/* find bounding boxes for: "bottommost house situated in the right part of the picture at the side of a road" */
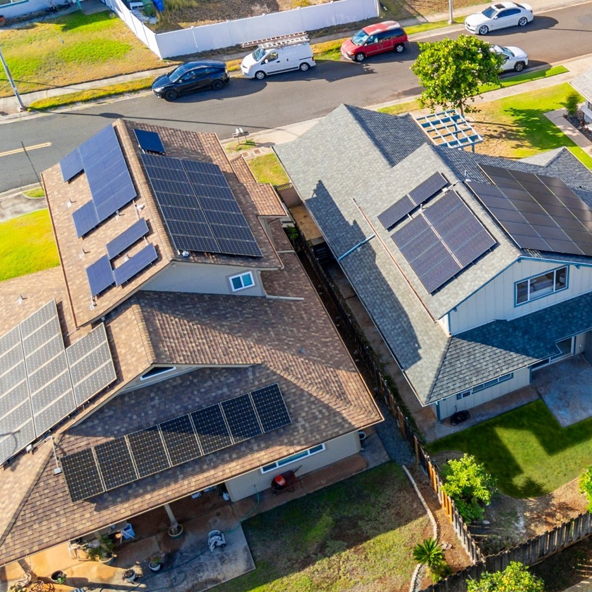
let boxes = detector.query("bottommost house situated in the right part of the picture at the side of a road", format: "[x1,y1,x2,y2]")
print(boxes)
[267,104,592,422]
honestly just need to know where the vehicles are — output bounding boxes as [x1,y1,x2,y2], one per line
[456,41,531,73]
[464,1,537,35]
[150,59,232,103]
[241,33,318,80]
[338,19,411,63]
